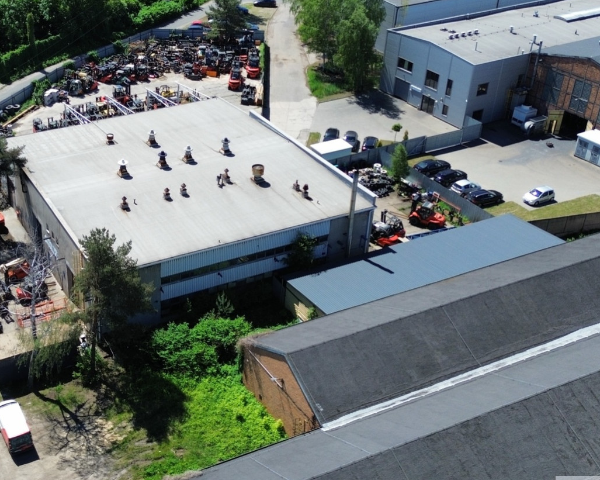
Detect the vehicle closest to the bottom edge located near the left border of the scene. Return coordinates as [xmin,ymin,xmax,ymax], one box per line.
[0,397,36,450]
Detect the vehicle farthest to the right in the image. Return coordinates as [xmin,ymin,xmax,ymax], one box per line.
[522,185,559,204]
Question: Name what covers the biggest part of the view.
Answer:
buildings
